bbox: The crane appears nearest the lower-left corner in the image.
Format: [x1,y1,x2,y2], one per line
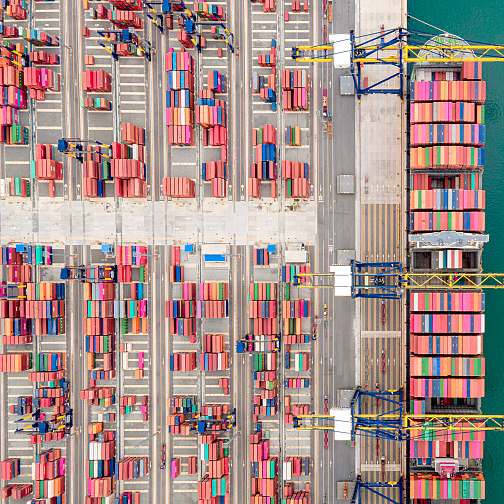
[13,407,72,433]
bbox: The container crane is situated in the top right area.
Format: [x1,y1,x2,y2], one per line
[291,23,504,102]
